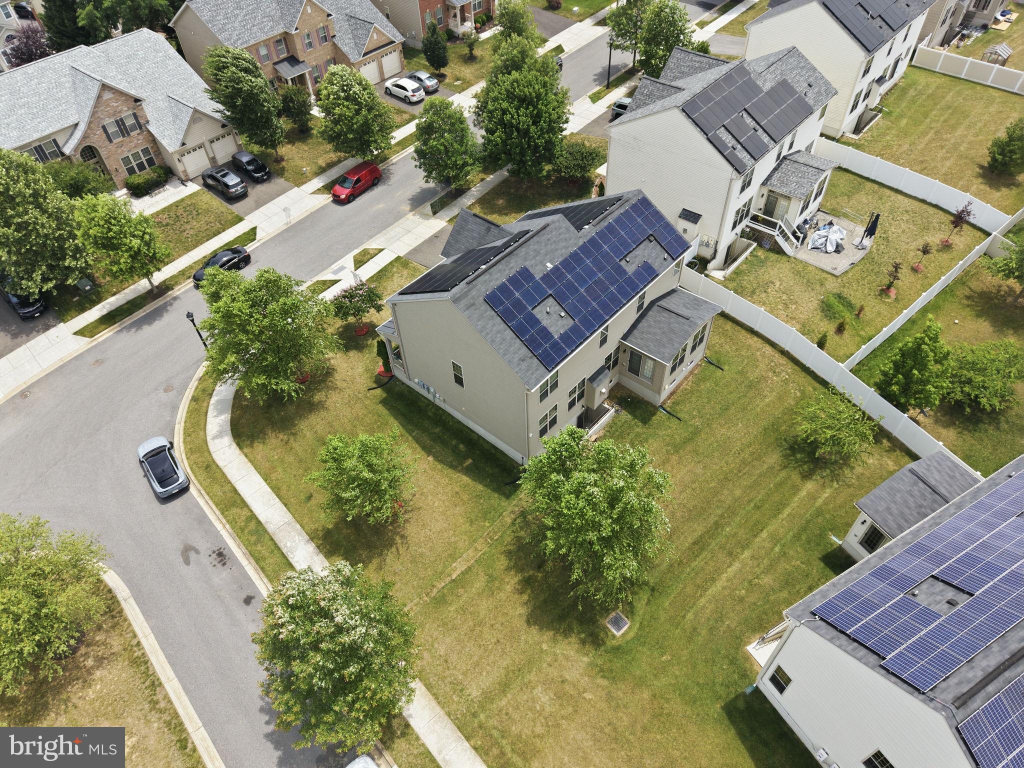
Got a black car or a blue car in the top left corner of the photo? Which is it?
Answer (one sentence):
There is a black car in the top left corner of the photo.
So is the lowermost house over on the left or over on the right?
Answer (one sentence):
The lowermost house is on the right side of the image.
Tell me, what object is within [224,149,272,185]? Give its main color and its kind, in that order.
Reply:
black car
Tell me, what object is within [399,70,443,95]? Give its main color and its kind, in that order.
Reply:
gray car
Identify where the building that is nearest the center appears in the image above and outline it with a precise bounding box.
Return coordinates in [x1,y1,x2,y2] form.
[374,188,721,465]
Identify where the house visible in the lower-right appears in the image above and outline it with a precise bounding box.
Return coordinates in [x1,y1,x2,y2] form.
[746,450,1024,768]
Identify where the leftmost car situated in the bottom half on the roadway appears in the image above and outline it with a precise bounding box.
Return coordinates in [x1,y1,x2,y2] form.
[136,437,192,510]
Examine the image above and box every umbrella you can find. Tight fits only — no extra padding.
[851,208,878,252]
